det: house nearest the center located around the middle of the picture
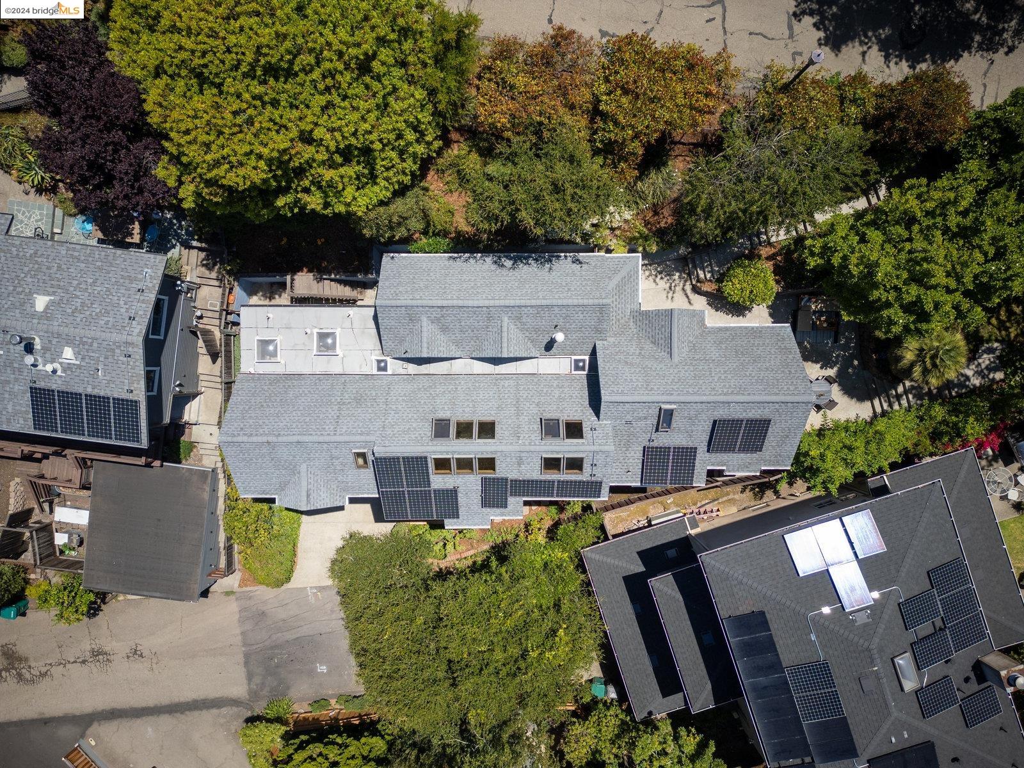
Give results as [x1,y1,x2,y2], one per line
[219,252,813,529]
